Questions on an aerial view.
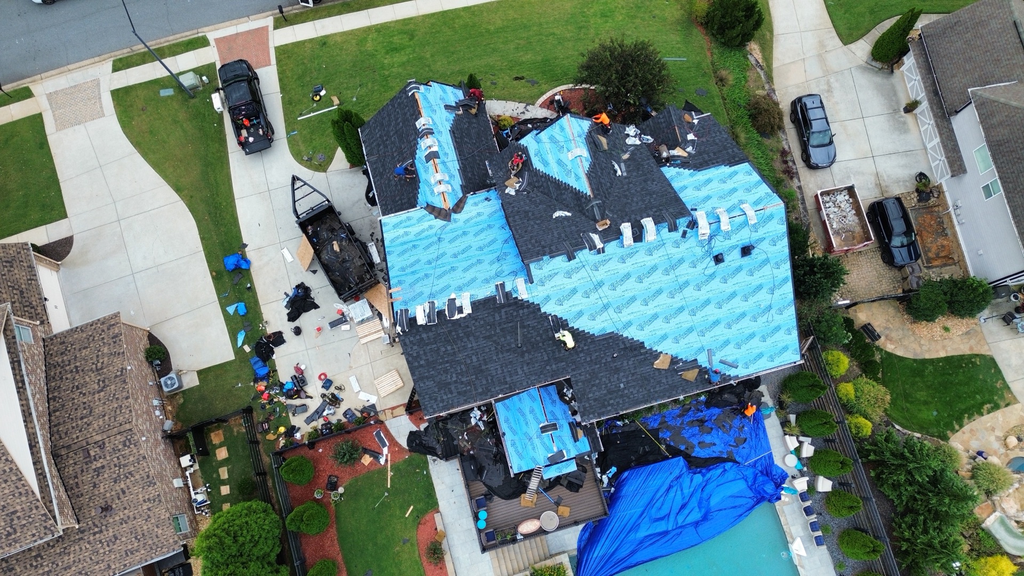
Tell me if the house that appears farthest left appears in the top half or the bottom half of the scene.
bottom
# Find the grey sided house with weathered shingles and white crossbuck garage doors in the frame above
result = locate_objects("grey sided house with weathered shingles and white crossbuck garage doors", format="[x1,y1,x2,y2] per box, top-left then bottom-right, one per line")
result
[901,0,1024,296]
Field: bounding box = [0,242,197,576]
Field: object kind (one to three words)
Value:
house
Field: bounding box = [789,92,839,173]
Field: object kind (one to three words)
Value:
car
